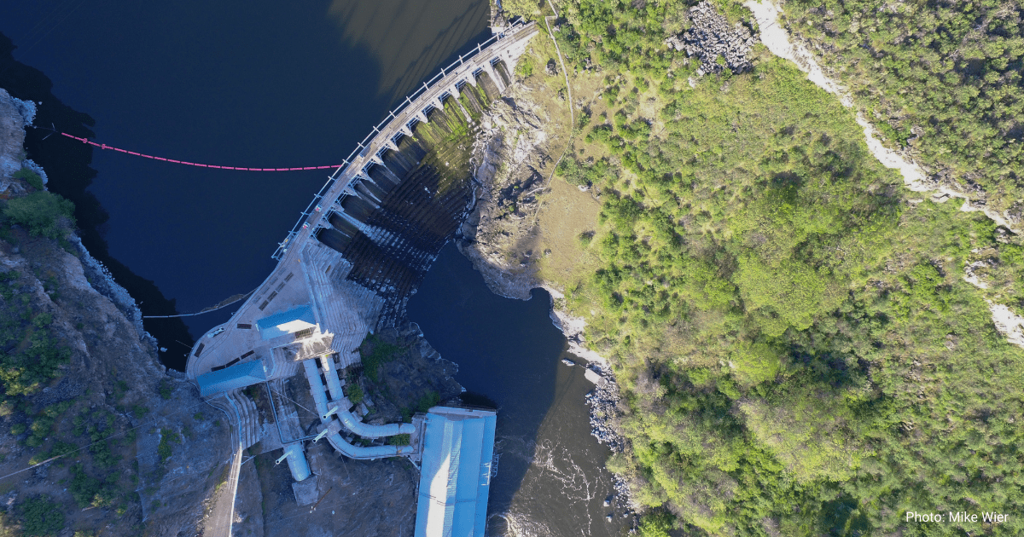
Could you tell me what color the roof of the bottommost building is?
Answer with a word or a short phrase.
blue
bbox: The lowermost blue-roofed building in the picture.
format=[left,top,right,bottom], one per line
[408,411,499,537]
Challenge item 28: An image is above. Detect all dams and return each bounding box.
[185,18,540,537]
